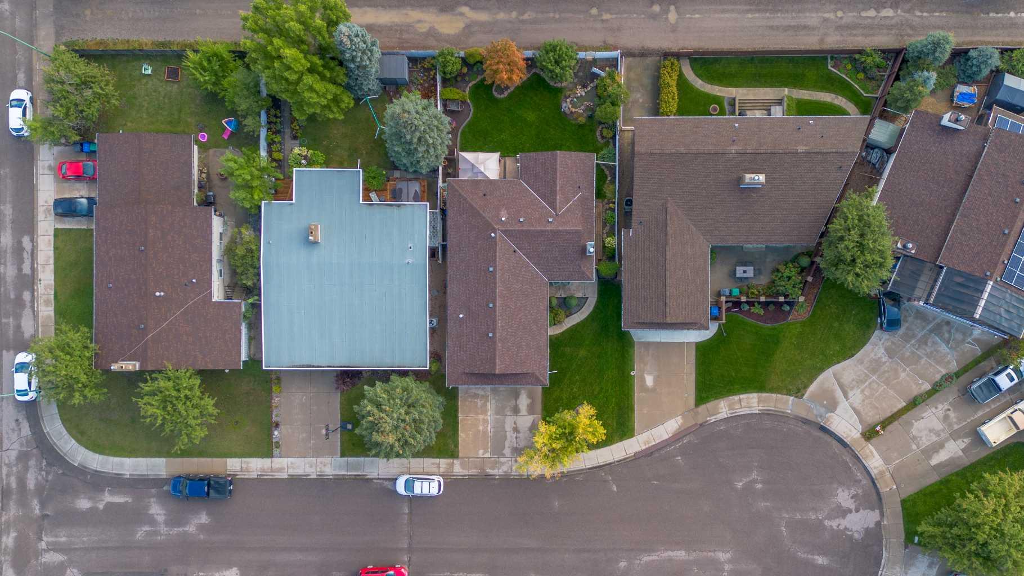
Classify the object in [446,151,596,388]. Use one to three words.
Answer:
house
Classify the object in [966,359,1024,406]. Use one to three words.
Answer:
truck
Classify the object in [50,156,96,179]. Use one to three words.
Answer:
car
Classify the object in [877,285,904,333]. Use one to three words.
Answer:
car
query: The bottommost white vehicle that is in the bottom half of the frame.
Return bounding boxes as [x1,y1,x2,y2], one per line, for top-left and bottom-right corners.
[395,476,443,501]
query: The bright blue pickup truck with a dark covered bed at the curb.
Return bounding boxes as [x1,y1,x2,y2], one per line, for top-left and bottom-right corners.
[168,478,230,504]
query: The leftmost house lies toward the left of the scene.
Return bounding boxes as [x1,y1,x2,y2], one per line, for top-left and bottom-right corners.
[94,132,251,370]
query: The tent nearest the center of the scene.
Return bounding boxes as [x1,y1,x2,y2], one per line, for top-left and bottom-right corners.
[458,152,500,179]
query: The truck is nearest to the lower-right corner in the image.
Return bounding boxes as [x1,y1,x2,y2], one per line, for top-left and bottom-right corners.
[981,402,1024,447]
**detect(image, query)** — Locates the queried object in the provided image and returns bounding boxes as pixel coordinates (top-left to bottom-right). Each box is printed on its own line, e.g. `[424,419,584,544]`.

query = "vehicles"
[6,352,35,402]
[50,156,96,179]
[966,359,1024,406]
[2,89,31,136]
[981,402,1024,447]
[395,476,443,501]
[877,285,904,333]
[168,478,230,504]
[46,193,96,217]
[358,565,407,576]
